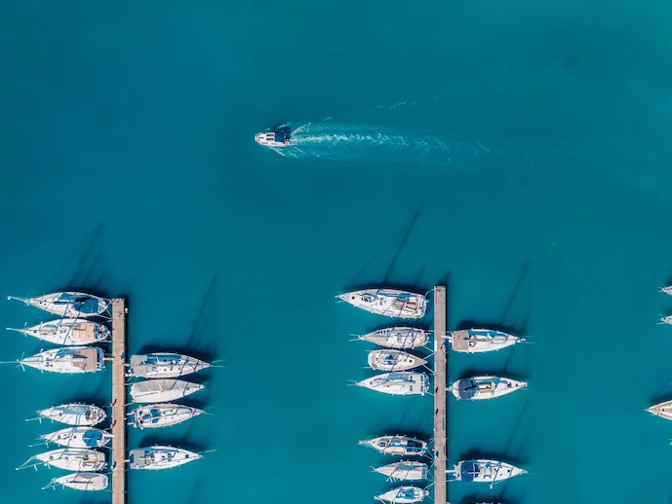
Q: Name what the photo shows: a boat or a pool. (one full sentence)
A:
I can see a boat in this picture.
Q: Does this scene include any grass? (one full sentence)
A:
No, the picture contains no grass.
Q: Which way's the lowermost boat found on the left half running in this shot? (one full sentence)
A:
In this picture, the lowermost boat found on the left half lies from side to side.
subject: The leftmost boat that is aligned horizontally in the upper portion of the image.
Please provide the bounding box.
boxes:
[253,130,295,146]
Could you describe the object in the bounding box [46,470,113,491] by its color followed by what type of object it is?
white boat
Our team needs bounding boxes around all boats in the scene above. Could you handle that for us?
[358,325,434,349]
[124,351,218,380]
[122,444,211,472]
[347,371,435,397]
[19,447,112,472]
[13,288,113,318]
[642,401,672,421]
[337,285,432,315]
[444,373,536,399]
[2,344,114,374]
[253,130,295,146]
[357,432,435,457]
[46,470,113,491]
[369,485,435,504]
[123,376,216,404]
[370,458,436,482]
[30,401,113,426]
[361,348,434,372]
[493,335,509,344]
[124,400,216,429]
[444,326,528,353]
[32,425,114,449]
[9,318,113,348]
[444,458,537,486]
